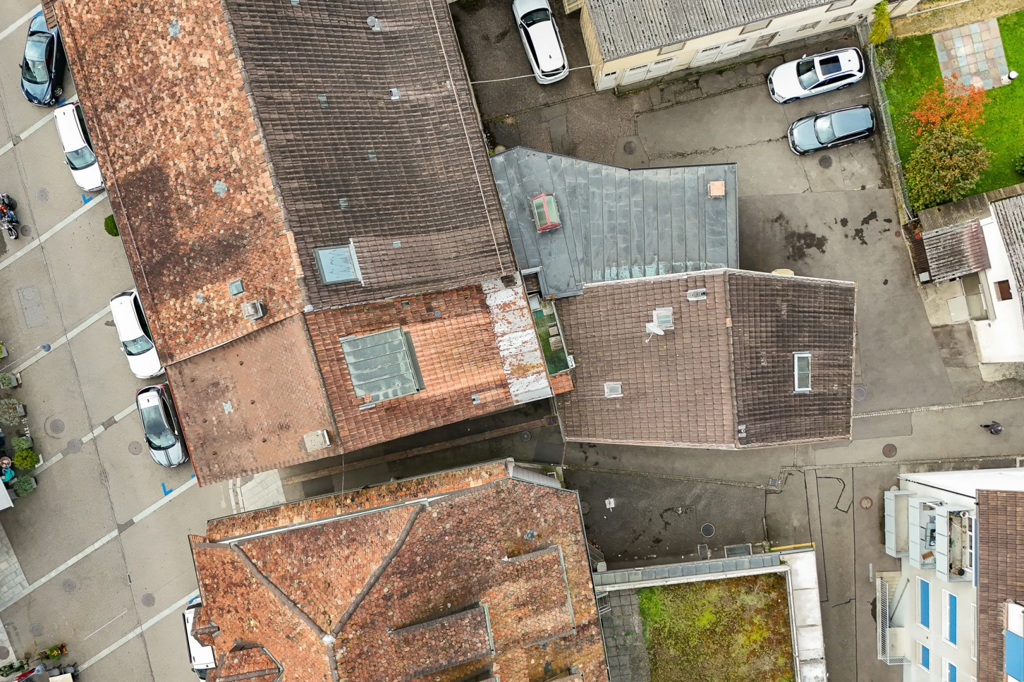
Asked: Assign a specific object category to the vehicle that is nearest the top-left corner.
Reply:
automobile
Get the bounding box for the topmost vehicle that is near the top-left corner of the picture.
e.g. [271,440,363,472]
[16,14,64,105]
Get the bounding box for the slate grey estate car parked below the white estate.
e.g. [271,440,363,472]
[788,105,877,155]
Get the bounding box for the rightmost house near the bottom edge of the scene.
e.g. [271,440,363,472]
[883,469,1024,682]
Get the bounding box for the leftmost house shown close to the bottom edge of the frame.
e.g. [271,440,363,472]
[186,452,618,682]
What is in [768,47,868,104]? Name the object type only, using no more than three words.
car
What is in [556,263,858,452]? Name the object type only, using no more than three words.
house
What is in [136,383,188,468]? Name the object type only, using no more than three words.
car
